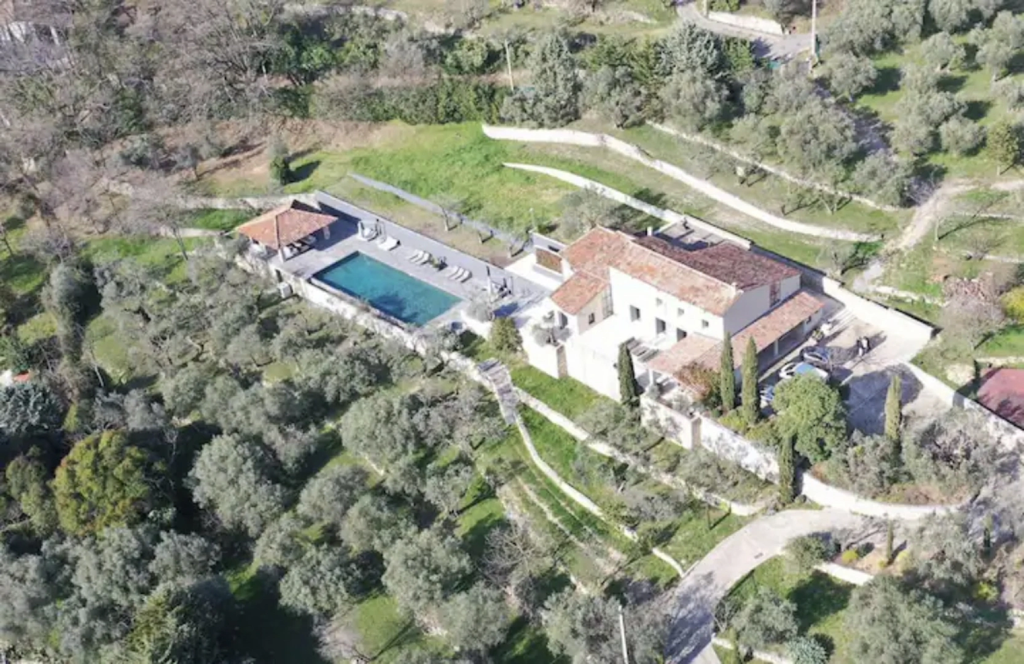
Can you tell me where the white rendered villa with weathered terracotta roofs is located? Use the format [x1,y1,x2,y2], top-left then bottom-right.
[551,224,824,410]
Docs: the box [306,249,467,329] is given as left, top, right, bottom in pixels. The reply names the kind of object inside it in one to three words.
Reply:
swimming pool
